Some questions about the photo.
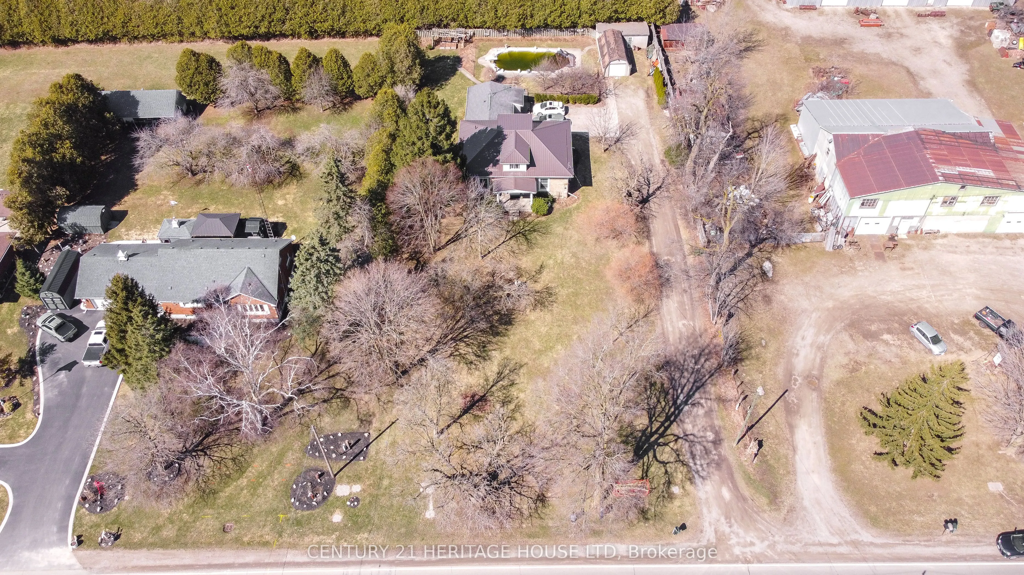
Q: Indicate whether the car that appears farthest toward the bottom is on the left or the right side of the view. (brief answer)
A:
right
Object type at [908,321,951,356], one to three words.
car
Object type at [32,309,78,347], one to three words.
truck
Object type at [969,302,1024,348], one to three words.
truck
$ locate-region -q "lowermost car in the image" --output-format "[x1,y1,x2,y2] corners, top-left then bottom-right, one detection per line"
[993,531,1024,560]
